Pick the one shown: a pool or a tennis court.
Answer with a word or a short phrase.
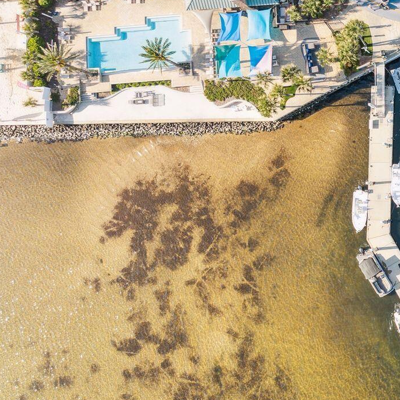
pool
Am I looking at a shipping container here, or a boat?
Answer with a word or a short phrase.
boat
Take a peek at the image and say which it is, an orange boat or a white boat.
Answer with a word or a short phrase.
white boat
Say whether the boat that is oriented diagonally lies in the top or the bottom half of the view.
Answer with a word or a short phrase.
bottom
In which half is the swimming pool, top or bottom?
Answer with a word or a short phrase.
top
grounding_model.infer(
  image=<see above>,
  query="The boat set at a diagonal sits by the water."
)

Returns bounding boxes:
[358,249,393,295]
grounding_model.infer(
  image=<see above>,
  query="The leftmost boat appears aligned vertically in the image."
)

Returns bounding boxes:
[351,183,368,234]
